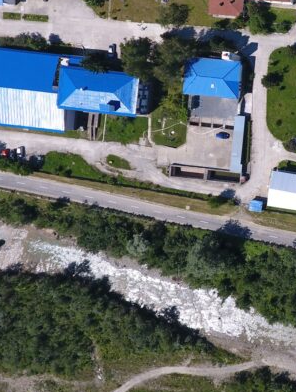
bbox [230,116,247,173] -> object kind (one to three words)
shed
